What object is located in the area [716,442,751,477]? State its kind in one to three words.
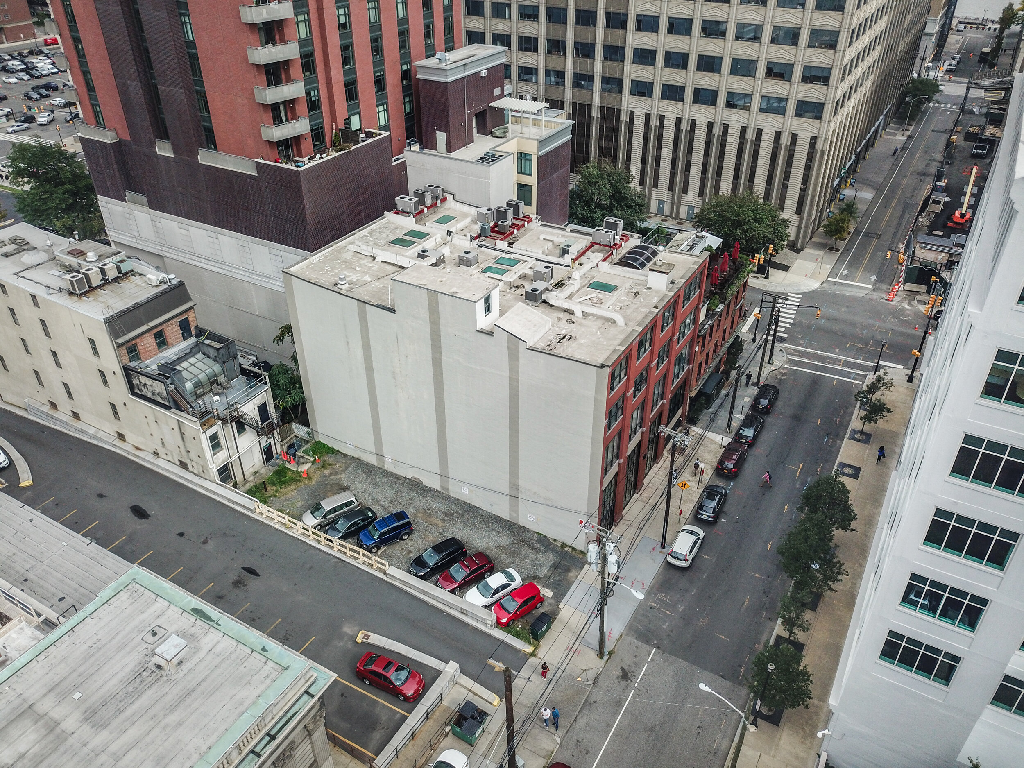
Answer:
car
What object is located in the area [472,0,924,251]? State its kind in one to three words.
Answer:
building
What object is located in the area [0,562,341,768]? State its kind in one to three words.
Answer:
building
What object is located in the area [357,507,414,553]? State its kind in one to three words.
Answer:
car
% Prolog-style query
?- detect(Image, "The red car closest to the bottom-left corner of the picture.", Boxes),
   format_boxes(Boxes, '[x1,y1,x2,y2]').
[354,648,427,700]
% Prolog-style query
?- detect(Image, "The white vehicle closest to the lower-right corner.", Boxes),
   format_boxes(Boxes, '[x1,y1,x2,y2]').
[666,521,708,567]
